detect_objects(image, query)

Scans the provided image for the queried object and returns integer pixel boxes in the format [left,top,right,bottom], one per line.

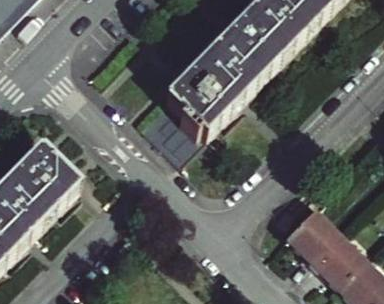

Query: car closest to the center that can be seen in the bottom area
[175,178,194,196]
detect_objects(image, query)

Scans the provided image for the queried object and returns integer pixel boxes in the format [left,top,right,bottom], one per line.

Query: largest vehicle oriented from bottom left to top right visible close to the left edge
[16,20,42,45]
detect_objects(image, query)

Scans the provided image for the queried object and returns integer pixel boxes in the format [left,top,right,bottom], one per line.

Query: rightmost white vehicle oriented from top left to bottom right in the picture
[202,259,220,278]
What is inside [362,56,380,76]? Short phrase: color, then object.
white car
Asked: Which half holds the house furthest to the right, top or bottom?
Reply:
bottom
